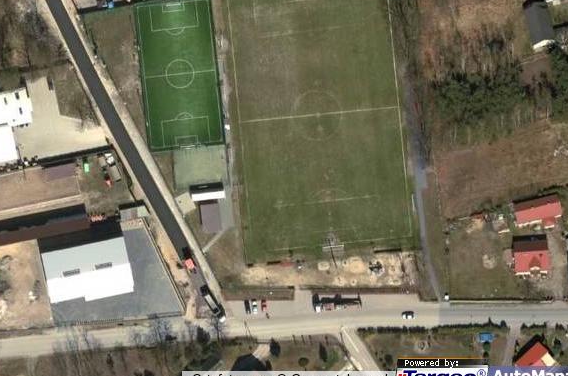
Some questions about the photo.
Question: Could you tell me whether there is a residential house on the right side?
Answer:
Yes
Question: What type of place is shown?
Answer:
sports ground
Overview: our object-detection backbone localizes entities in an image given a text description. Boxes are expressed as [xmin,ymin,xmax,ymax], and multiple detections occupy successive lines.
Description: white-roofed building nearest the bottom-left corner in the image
[40,237,133,305]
